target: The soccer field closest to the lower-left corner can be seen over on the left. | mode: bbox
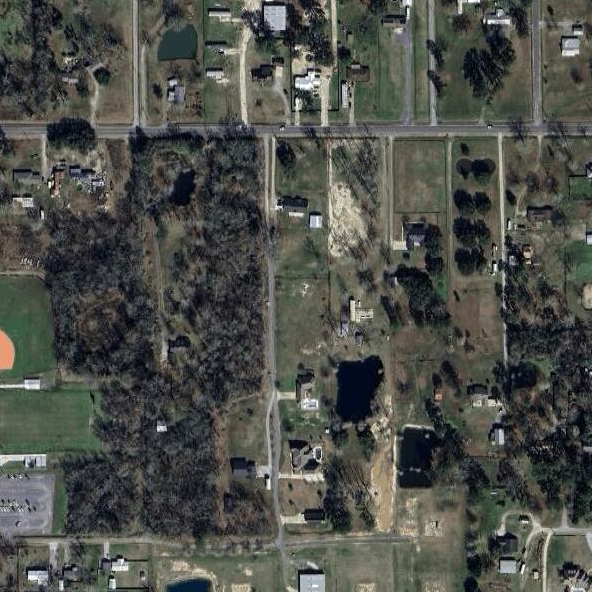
[0,388,103,454]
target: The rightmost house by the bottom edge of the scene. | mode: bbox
[558,562,592,591]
